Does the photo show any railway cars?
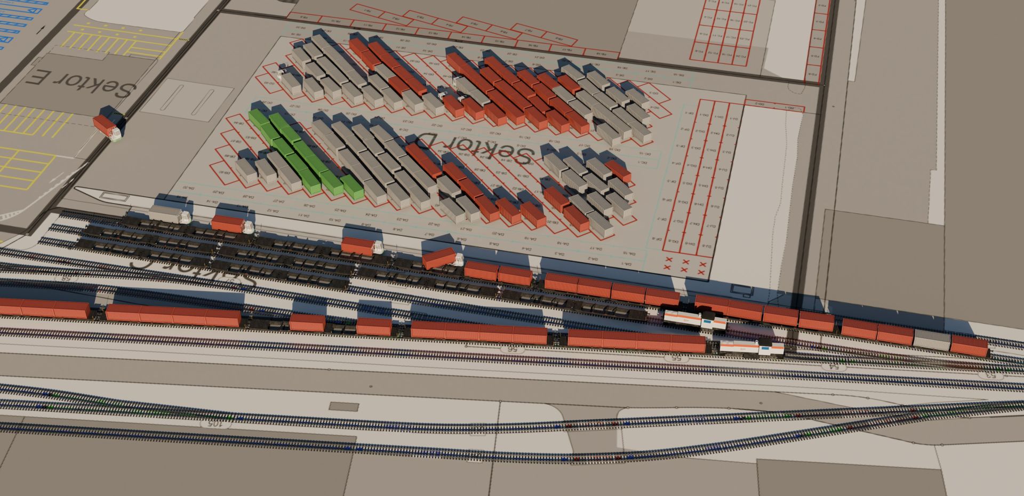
Yes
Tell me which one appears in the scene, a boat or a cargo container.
cargo container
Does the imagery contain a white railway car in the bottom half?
Yes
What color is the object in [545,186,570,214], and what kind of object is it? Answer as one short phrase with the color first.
red shipping container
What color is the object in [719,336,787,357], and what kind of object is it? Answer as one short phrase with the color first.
white rail car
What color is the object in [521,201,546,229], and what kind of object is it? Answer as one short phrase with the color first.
red shipping container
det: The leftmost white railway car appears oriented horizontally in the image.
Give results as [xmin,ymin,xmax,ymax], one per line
[662,308,729,331]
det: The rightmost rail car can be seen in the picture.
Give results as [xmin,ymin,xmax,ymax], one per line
[836,324,995,358]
